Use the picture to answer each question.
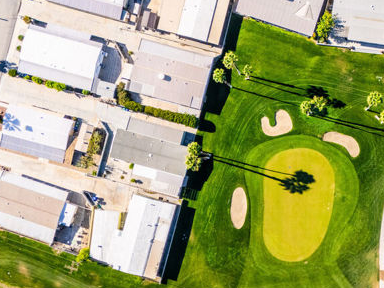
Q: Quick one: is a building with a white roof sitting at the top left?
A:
Yes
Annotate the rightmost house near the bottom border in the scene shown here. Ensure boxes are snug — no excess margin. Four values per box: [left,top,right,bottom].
[90,195,180,281]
